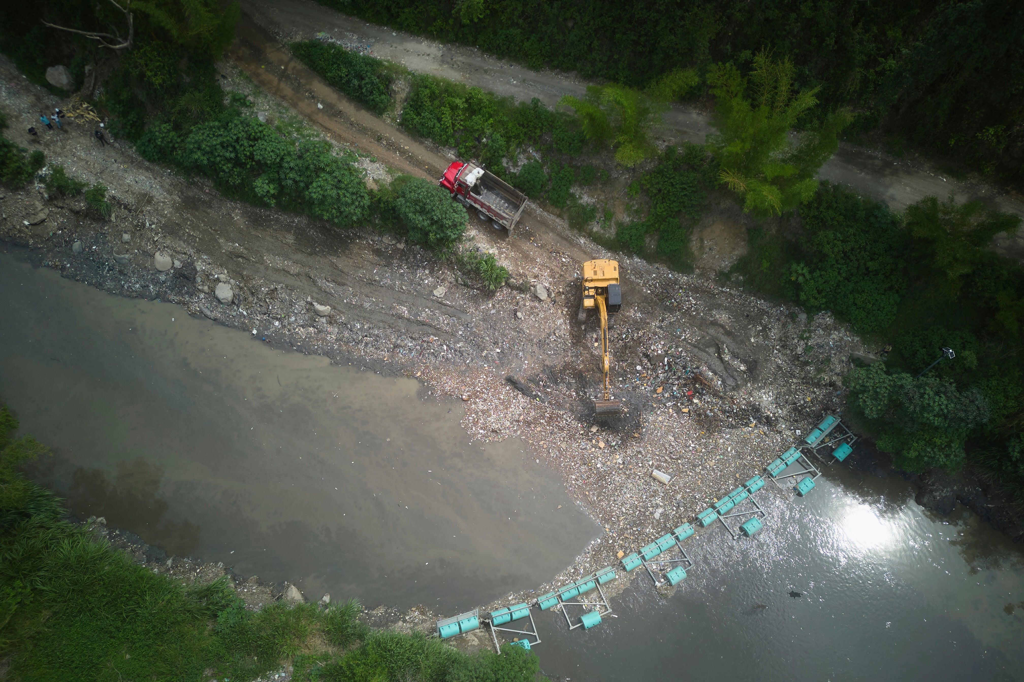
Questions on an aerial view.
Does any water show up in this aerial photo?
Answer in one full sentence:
Yes, there is water in the image.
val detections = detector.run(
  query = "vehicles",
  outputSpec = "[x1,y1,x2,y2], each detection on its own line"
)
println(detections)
[441,153,535,239]
[576,262,624,407]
